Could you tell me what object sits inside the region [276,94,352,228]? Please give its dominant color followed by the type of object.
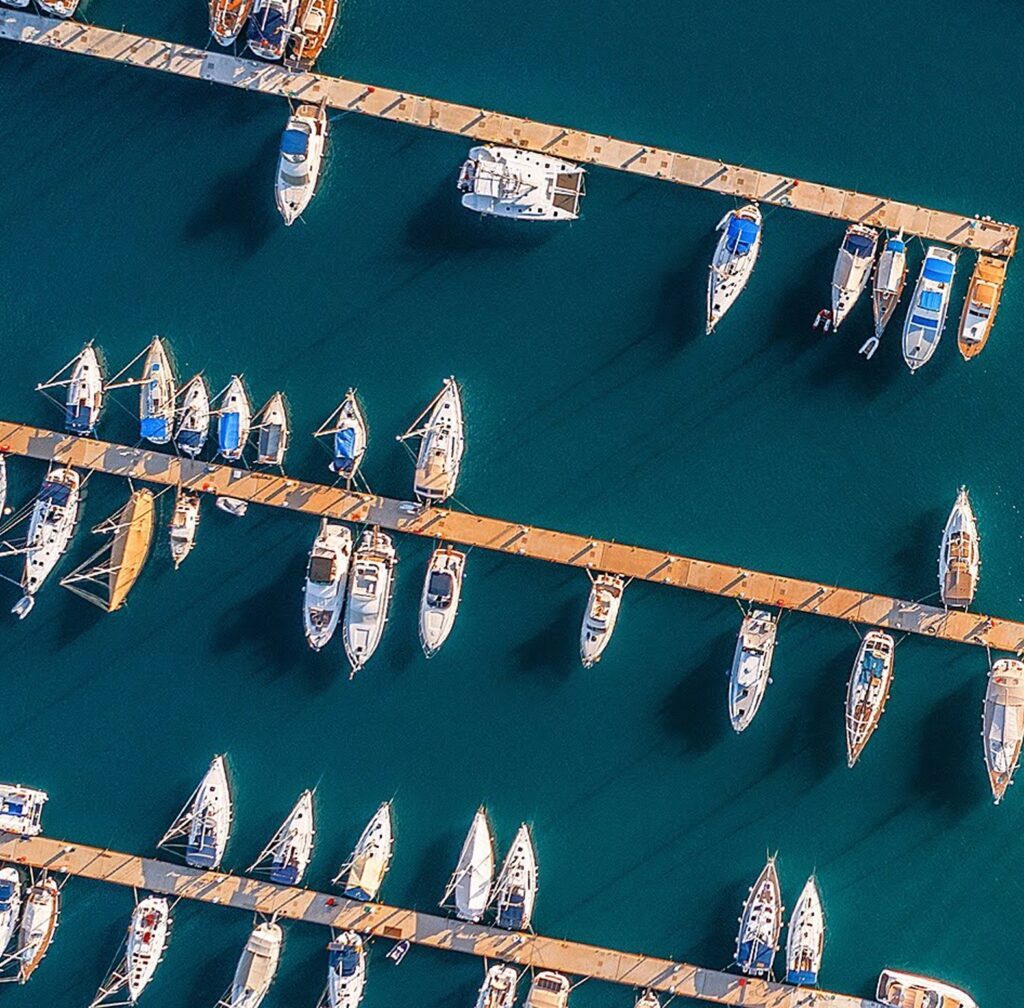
white boat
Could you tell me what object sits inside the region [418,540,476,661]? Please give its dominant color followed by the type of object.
white boat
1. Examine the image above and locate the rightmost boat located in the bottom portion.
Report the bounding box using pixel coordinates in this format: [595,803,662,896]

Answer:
[980,647,1024,807]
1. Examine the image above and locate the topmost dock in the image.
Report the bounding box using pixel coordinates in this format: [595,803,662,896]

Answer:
[0,7,1019,256]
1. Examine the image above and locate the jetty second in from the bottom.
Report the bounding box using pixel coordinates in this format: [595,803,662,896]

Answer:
[0,421,1024,653]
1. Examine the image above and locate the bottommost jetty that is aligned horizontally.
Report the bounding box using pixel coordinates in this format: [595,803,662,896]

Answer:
[0,829,904,1008]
